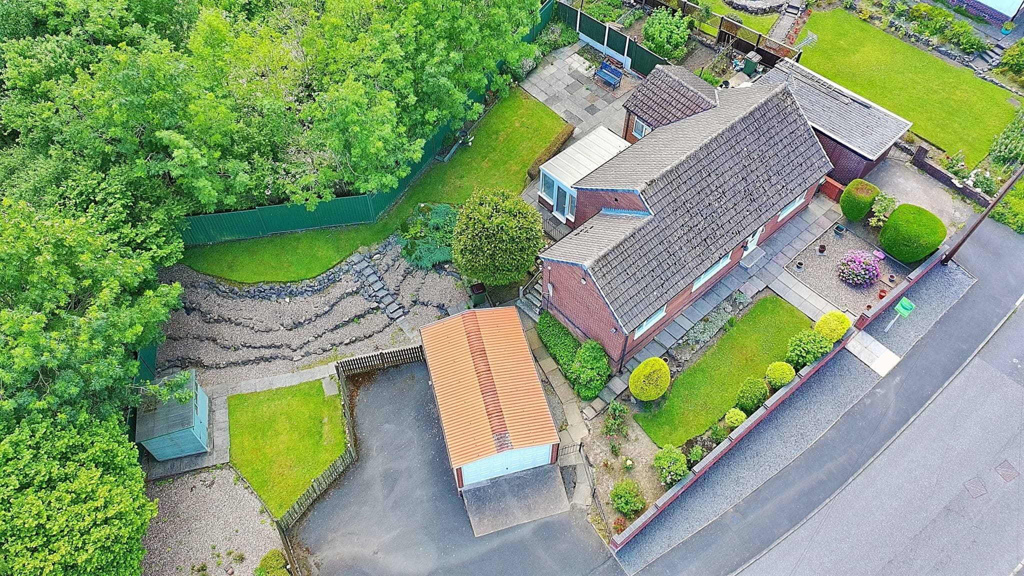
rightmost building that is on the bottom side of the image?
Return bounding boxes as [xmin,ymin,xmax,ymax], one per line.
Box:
[420,306,559,489]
